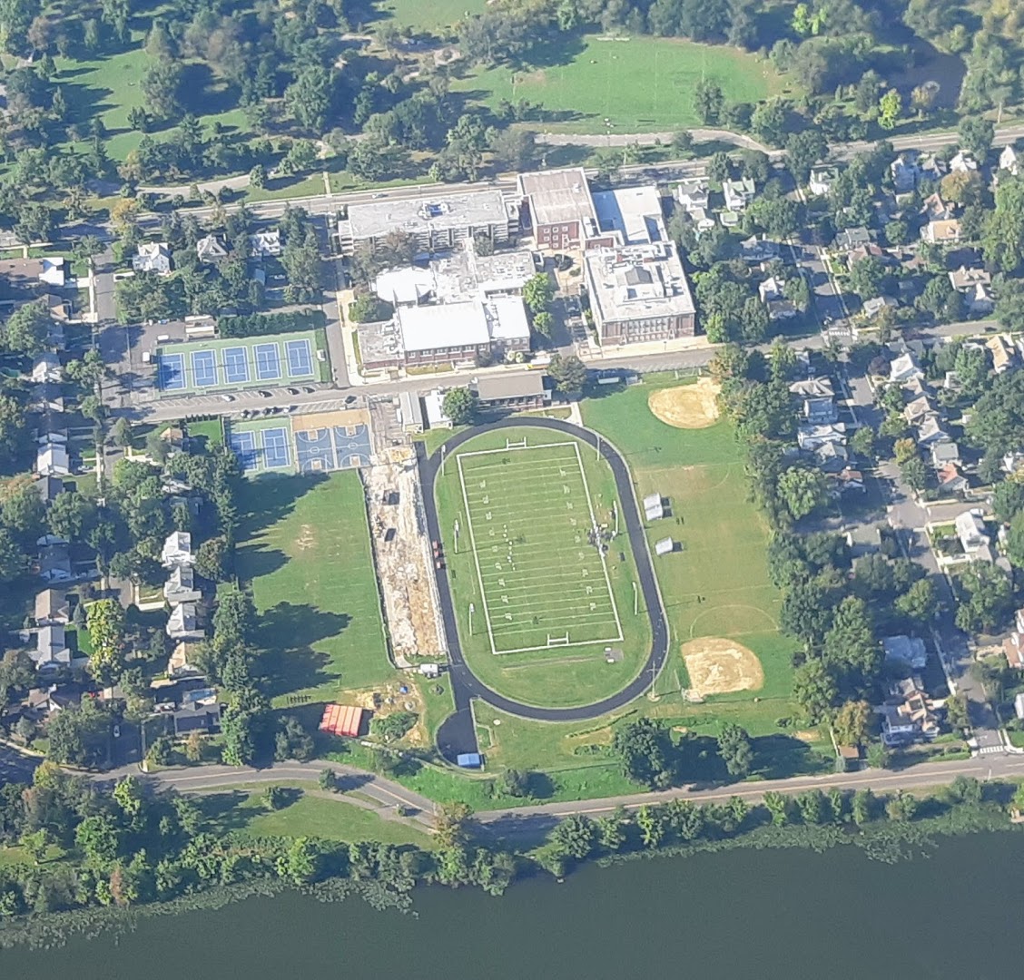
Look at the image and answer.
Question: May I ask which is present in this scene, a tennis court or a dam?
tennis court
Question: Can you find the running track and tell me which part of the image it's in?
center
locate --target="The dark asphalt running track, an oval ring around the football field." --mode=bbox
[417,416,671,771]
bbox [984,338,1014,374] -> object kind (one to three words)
house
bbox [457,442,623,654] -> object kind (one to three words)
sports field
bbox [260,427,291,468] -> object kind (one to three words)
tennis court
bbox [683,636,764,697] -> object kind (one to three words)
baseball field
